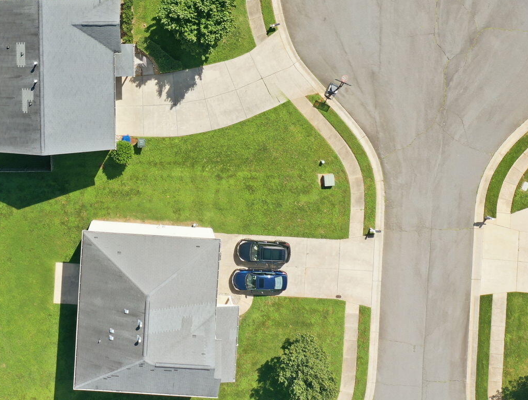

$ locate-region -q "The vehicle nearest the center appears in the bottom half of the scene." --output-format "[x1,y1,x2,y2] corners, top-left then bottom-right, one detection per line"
[237,239,294,267]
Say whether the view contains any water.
No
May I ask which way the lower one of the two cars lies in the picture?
from side to side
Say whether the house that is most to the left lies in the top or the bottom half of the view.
top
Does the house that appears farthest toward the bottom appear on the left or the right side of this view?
left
